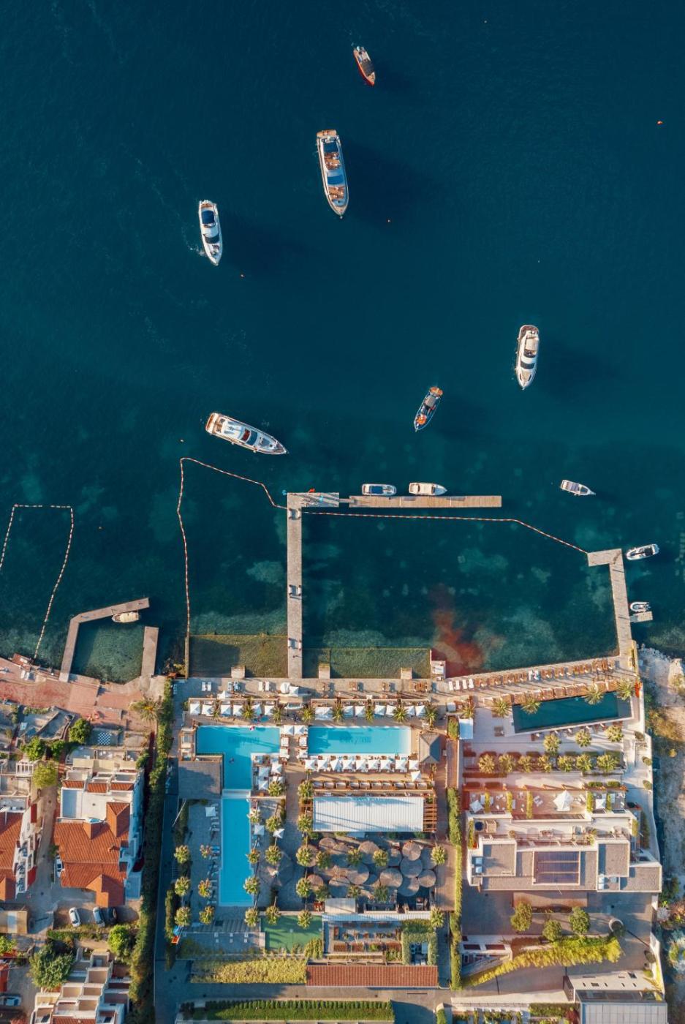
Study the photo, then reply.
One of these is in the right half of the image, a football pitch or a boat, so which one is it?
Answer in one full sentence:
You can see a boat in the right half of the image.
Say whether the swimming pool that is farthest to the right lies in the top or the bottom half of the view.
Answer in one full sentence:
You can find the swimming pool that is farthest to the right in the bottom half.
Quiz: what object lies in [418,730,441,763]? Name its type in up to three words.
gazebo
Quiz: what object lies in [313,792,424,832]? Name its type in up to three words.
building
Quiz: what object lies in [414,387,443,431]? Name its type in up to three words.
boat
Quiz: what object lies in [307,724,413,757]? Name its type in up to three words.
swimming pool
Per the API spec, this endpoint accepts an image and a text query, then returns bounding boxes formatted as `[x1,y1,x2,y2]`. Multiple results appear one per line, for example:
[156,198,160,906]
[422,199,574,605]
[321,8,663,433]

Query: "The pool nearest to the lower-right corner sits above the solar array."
[511,690,634,732]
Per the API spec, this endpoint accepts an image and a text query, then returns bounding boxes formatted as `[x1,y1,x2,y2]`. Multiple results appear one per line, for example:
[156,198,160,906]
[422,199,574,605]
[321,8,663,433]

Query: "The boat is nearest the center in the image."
[362,483,397,495]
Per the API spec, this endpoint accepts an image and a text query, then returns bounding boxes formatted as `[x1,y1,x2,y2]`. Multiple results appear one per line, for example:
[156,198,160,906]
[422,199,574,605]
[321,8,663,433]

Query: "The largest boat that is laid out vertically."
[315,133,349,218]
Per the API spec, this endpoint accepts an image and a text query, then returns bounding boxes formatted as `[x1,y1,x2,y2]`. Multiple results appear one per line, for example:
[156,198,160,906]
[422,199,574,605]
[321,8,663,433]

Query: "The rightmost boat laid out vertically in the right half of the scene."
[514,326,538,389]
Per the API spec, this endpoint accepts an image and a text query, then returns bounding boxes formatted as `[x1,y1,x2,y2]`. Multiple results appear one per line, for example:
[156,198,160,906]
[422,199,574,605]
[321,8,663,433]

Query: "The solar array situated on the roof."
[532,850,581,884]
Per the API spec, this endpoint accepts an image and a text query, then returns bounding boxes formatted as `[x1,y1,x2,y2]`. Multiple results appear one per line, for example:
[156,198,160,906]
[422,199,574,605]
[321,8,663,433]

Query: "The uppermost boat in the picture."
[355,45,375,88]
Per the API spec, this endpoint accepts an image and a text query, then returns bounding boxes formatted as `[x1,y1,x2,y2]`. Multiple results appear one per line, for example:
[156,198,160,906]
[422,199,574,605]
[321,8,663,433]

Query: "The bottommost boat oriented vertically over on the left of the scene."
[199,203,222,266]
